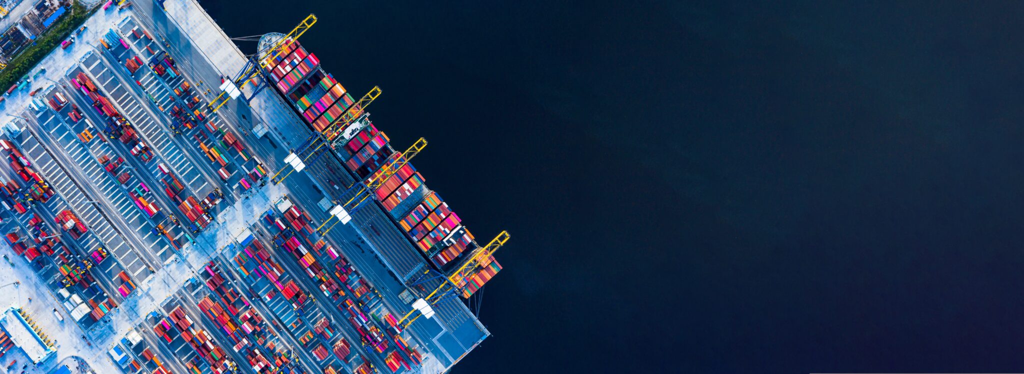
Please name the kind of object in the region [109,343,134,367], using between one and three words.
building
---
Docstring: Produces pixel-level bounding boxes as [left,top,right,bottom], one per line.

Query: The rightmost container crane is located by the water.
[398,230,511,332]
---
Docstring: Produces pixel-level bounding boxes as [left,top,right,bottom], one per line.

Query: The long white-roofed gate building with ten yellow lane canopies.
[0,305,57,366]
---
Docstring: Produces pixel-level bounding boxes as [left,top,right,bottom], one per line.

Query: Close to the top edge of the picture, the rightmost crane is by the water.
[205,12,319,113]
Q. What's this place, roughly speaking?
port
